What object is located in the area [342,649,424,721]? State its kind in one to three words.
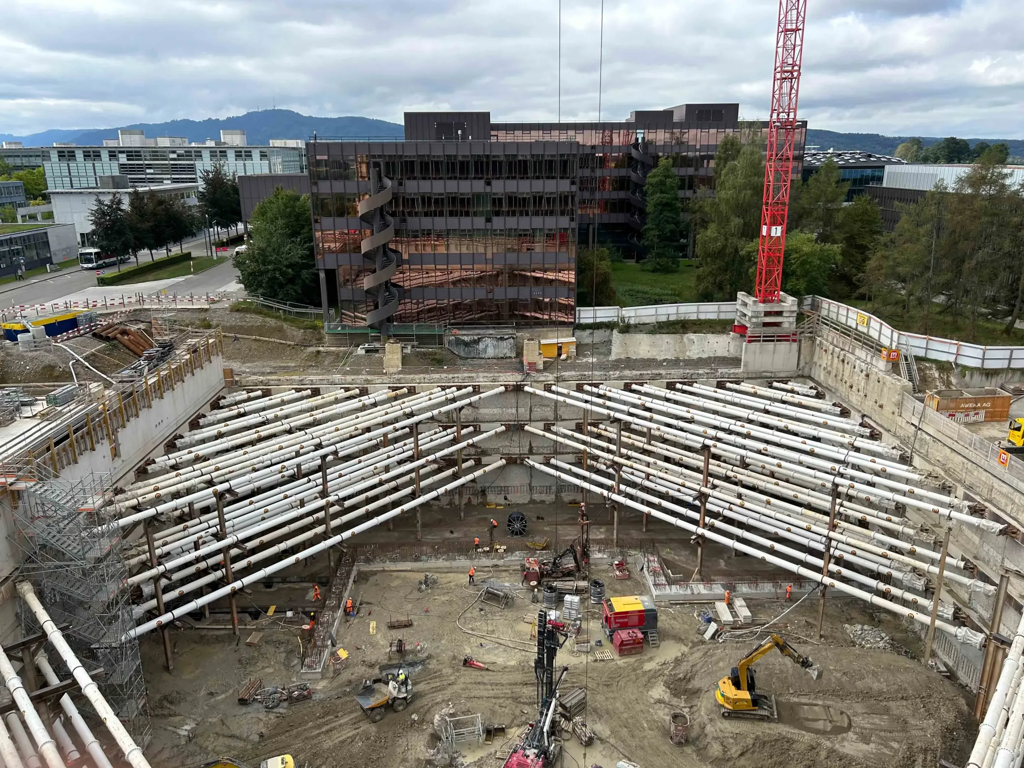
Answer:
truck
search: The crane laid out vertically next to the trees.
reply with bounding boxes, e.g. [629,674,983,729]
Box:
[732,0,815,341]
